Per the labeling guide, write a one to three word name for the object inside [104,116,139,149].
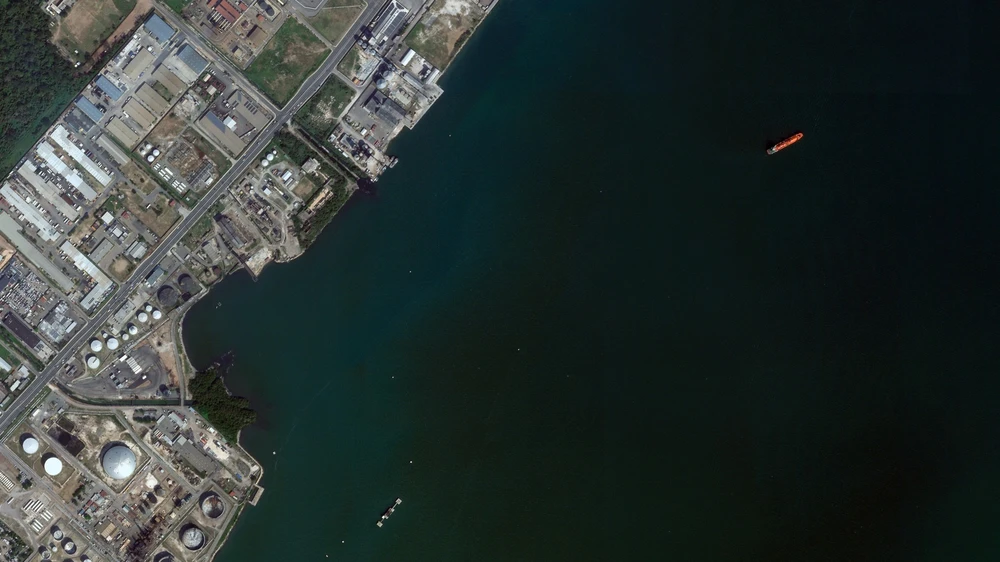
building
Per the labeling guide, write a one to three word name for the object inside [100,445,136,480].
storage tank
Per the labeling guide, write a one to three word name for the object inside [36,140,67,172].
building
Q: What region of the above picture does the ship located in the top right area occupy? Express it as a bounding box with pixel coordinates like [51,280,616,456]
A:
[767,133,803,155]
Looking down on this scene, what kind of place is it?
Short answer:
port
